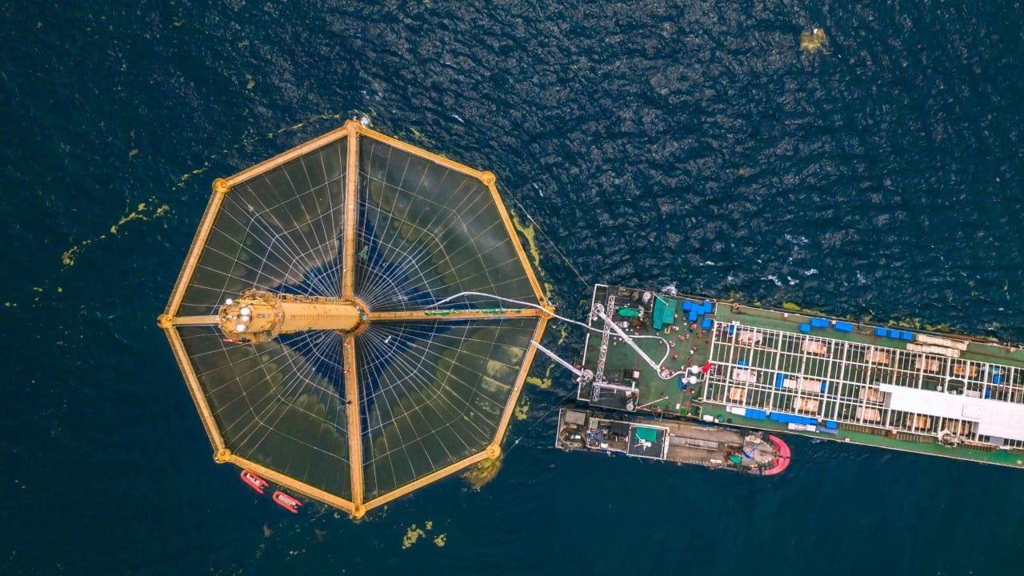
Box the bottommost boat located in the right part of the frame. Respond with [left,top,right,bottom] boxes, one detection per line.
[555,409,792,473]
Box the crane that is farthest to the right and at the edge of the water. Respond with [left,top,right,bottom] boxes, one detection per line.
[593,303,661,373]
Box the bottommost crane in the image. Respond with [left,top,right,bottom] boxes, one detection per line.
[531,340,597,384]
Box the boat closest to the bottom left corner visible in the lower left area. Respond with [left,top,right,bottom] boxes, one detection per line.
[241,470,270,493]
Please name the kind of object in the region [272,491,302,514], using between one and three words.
boat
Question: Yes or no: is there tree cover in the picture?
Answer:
No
